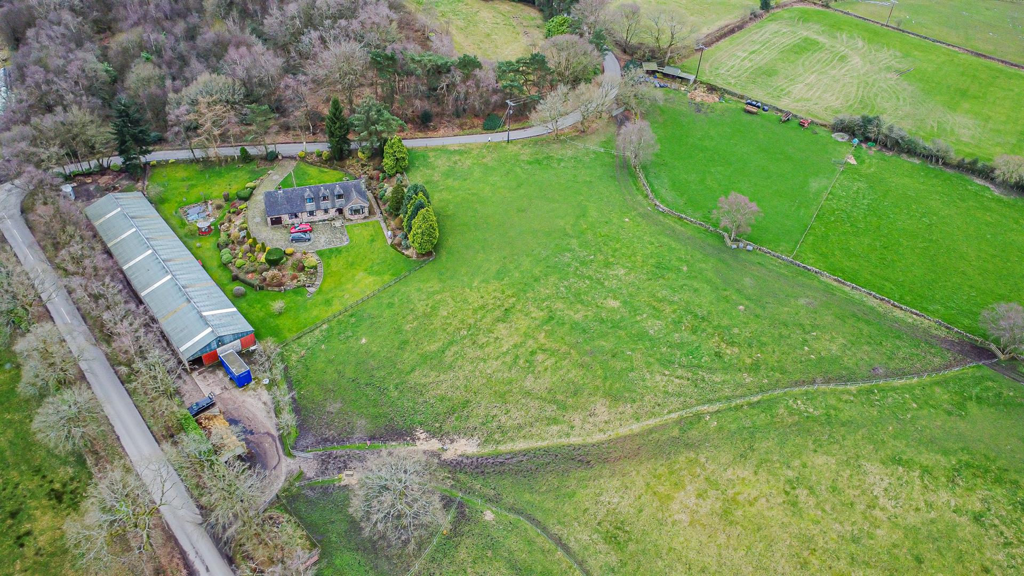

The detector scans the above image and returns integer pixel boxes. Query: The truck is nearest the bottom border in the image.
[188,395,221,421]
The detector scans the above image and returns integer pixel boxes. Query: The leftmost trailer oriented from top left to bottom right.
[219,348,253,386]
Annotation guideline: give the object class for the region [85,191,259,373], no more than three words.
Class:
barn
